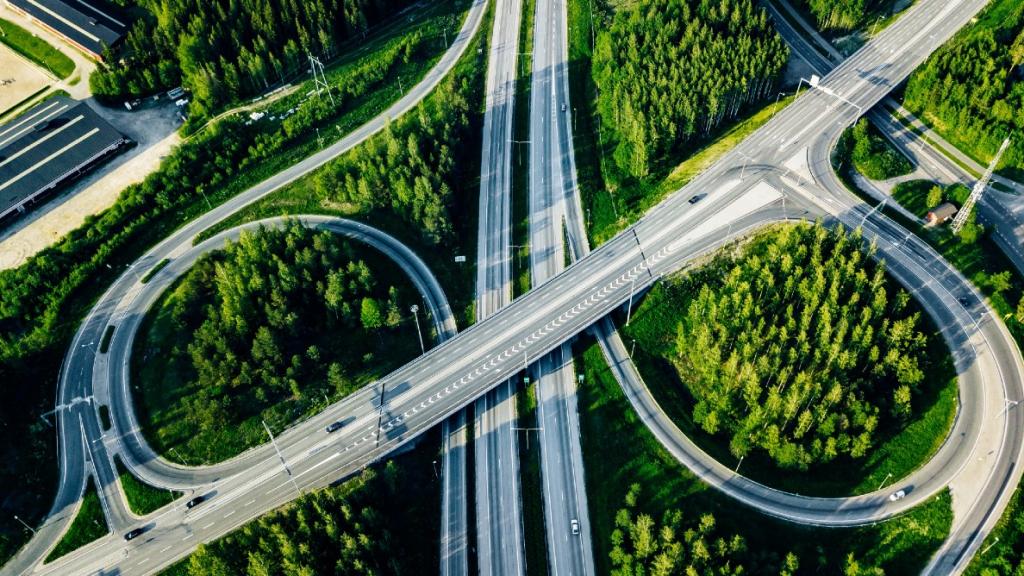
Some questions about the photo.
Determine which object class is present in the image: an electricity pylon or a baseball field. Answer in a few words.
electricity pylon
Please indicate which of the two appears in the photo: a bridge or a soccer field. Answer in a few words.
bridge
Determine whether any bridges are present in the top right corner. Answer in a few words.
Yes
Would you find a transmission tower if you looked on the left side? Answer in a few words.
Yes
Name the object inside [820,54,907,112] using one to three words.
bridge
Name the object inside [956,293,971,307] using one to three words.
car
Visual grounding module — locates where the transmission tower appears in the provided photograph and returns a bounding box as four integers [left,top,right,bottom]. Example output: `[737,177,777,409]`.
[308,52,334,104]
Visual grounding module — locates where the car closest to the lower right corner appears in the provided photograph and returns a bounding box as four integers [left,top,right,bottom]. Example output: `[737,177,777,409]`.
[889,487,908,500]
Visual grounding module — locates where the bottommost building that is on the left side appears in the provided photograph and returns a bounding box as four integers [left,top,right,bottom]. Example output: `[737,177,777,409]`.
[0,101,127,227]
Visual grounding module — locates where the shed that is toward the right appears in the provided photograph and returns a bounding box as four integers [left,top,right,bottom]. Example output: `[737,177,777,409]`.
[923,200,962,229]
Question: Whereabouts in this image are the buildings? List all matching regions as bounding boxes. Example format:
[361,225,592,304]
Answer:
[0,101,127,227]
[923,200,962,229]
[0,0,152,65]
